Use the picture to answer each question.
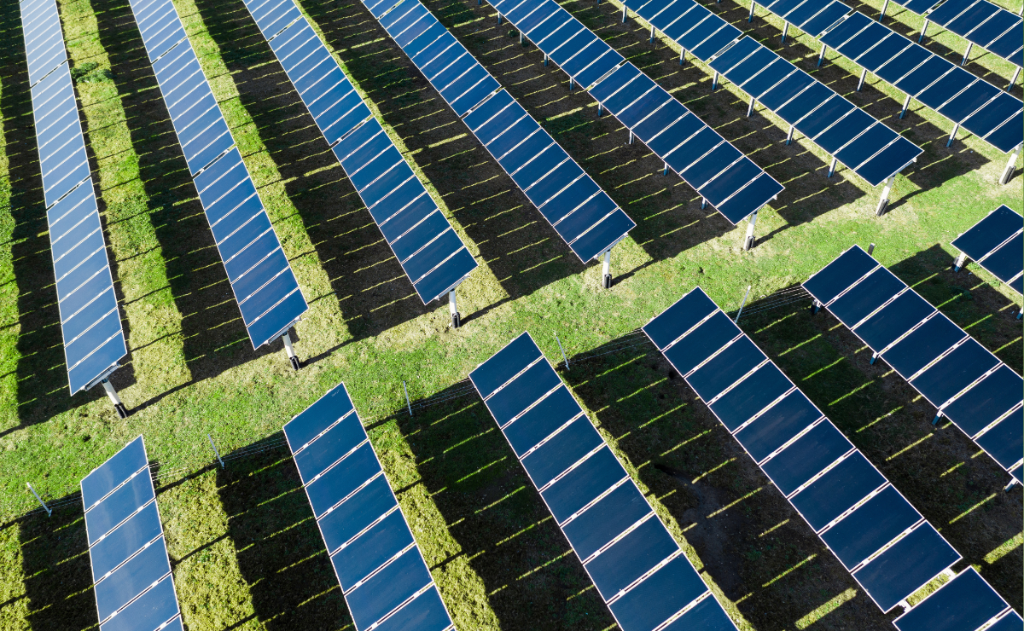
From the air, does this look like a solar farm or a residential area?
solar farm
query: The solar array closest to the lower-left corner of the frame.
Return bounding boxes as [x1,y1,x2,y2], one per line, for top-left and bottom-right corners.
[81,435,183,631]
